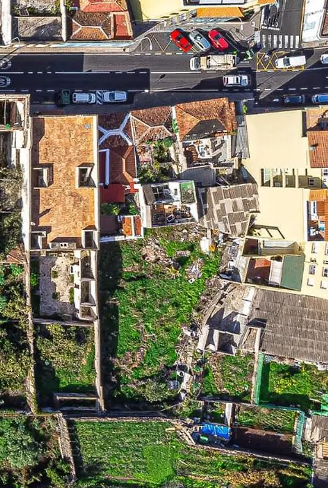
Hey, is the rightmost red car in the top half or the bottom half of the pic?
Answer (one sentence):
It is in the top half that the rightmost red car appears.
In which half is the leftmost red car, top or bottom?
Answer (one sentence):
The leftmost red car sits in the top half of the picture.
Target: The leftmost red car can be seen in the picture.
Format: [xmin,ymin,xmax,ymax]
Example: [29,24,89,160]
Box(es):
[168,29,191,54]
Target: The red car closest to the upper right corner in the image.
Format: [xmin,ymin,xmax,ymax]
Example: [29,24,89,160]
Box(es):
[207,28,230,52]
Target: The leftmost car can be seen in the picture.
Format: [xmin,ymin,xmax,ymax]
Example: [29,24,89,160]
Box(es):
[71,92,96,104]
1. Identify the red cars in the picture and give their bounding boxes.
[168,29,191,54]
[207,28,230,52]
